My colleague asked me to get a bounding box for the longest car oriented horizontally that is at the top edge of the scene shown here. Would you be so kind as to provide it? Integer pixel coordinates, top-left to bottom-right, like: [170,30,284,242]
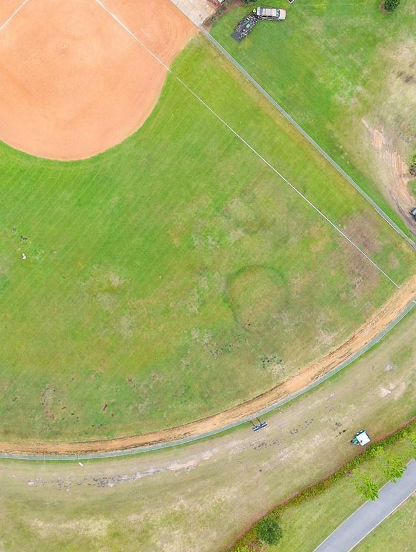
[257,6,287,21]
